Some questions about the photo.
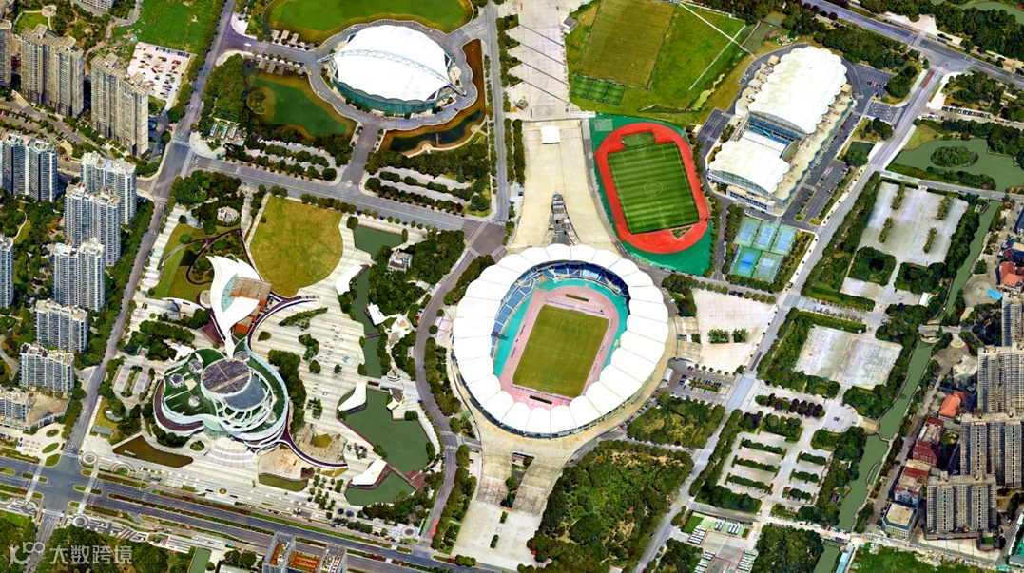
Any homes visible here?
Yes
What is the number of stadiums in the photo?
2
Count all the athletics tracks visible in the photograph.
2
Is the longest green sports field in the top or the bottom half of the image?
top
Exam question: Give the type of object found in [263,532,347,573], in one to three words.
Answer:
building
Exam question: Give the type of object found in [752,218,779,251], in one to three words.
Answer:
tennis court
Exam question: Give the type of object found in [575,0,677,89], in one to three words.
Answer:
soccer field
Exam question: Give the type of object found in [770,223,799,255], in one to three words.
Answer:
tennis court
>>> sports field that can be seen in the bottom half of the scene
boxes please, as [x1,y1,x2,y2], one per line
[515,304,607,397]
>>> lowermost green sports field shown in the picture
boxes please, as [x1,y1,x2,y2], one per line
[588,110,713,277]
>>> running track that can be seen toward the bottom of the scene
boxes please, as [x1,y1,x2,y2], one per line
[502,282,619,411]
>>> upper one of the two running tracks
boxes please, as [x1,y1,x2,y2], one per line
[593,123,709,253]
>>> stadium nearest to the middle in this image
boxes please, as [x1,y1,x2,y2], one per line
[450,241,671,448]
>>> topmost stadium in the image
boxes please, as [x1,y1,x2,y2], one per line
[314,25,469,117]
